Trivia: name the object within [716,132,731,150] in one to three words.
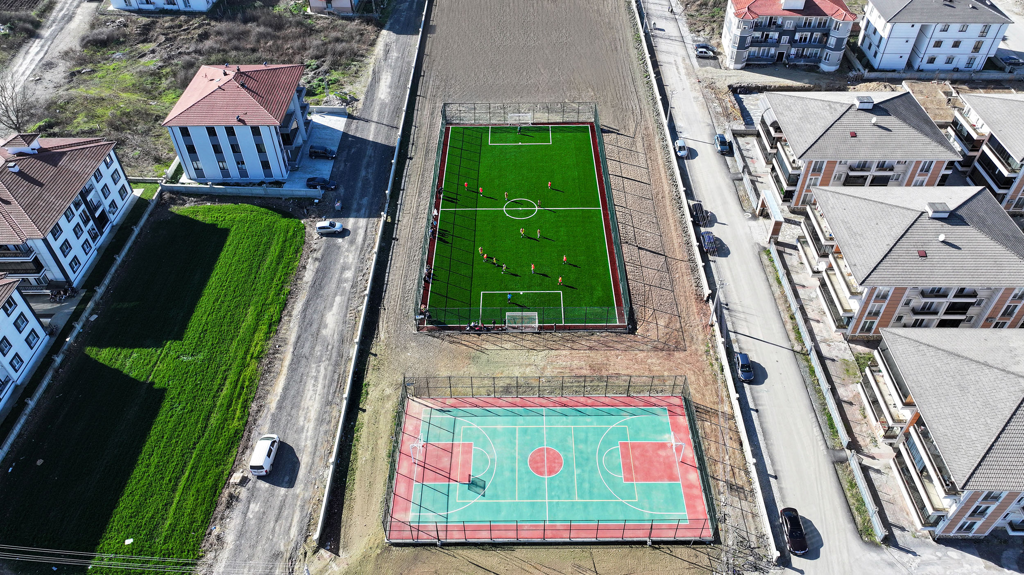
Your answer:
car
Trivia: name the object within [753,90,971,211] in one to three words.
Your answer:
building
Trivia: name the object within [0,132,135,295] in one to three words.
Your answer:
house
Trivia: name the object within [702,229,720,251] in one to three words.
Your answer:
car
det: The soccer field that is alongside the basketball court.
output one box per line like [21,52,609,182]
[414,121,629,332]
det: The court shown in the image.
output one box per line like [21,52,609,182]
[387,394,714,542]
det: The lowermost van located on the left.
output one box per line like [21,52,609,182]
[242,434,280,478]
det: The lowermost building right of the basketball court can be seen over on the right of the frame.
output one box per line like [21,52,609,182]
[855,327,1024,542]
